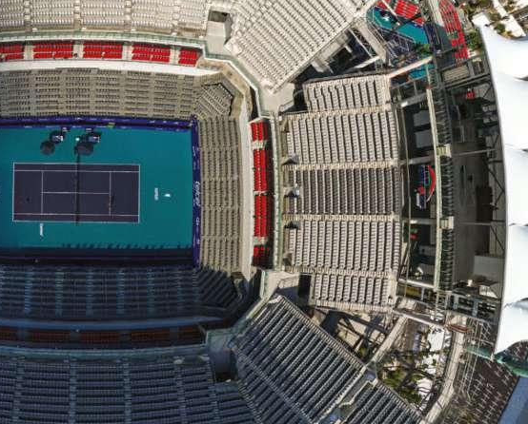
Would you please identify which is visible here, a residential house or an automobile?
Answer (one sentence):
This aerial view contains a residential house.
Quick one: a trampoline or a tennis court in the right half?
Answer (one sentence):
Looking in the right half, you will find a tennis court.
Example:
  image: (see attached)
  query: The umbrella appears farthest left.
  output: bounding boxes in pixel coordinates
[39,140,54,154]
